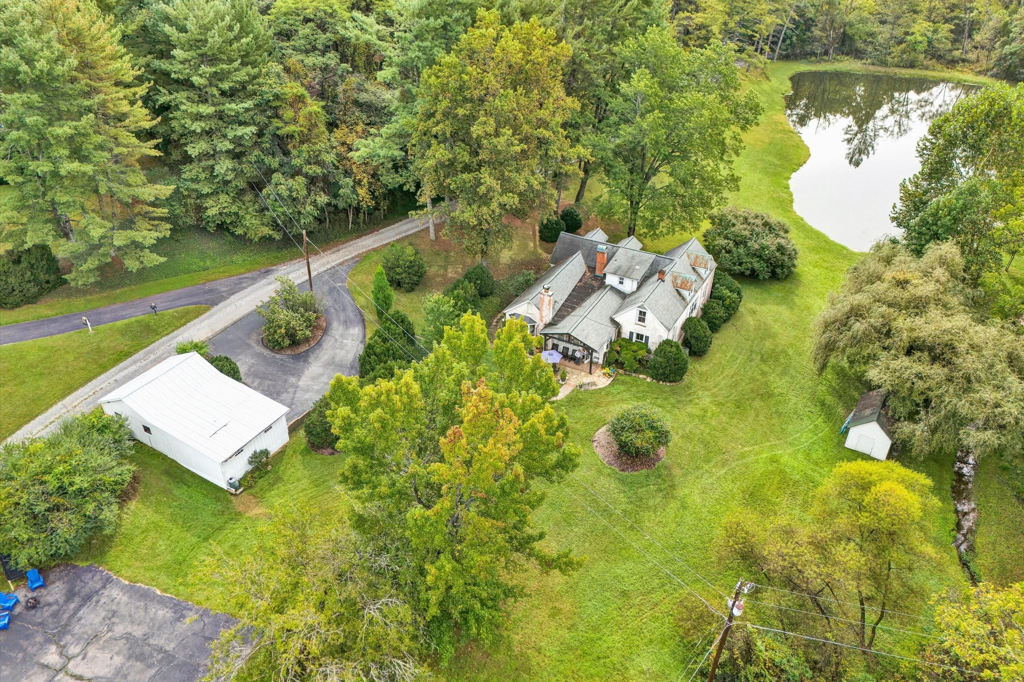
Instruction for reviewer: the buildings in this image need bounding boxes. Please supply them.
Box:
[504,227,718,375]
[96,354,293,490]
[845,389,907,458]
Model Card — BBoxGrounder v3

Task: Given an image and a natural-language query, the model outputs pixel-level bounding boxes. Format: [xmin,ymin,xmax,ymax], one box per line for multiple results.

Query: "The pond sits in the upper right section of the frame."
[787,74,1005,252]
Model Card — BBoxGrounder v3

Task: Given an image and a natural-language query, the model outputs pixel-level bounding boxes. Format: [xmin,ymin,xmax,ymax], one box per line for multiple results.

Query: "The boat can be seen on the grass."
[836,418,851,441]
